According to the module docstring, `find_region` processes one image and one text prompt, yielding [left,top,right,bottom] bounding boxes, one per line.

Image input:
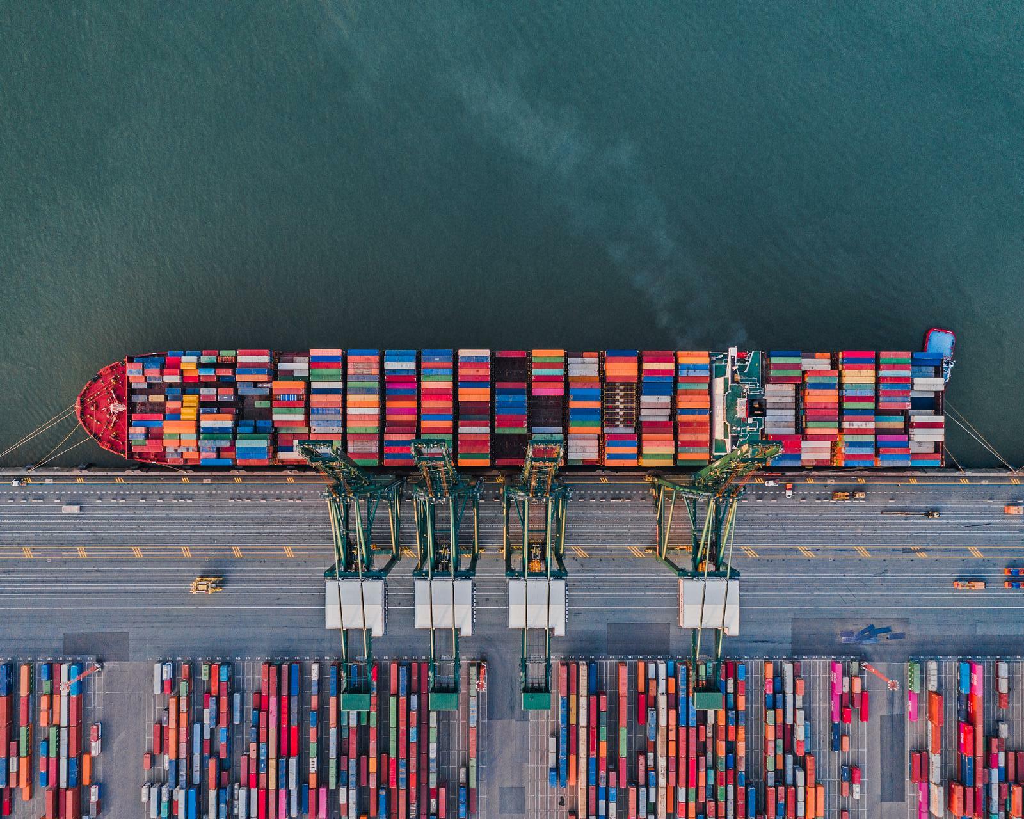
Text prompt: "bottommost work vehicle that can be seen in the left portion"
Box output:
[190,574,225,594]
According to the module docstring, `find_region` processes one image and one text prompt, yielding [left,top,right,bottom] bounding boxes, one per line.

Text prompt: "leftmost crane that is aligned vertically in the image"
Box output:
[298,439,414,713]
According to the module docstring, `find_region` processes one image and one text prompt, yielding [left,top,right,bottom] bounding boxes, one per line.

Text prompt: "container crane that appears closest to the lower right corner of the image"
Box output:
[638,439,785,713]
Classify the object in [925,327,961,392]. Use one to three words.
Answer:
boat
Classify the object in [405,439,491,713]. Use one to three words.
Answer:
container crane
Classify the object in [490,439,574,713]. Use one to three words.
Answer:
container crane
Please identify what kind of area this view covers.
port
